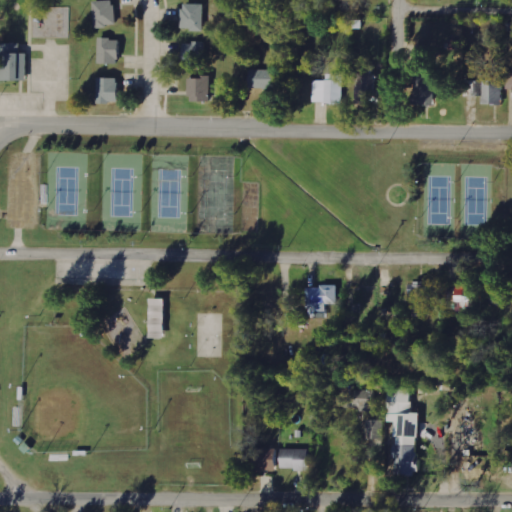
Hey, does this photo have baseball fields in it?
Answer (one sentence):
Yes, there's a baseball field down there.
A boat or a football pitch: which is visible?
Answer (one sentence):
Of the two, only a football pitch appears.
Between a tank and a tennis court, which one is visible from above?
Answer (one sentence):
There is a tennis court in the scene.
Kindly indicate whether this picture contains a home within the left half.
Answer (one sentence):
Yes, within the left half there is a home.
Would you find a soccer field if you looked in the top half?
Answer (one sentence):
No, there's no soccer field to be seen in the top half.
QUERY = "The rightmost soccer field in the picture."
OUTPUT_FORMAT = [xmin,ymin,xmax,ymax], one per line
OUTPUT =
[158,370,229,485]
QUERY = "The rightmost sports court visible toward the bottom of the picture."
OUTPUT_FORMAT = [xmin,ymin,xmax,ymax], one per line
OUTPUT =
[197,313,222,358]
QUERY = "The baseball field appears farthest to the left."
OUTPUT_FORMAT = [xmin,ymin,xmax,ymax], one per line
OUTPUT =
[20,324,149,454]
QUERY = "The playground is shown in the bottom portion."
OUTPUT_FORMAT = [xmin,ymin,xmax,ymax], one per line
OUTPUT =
[107,307,143,357]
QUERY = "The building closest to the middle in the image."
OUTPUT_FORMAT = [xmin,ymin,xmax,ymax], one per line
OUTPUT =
[305,285,338,318]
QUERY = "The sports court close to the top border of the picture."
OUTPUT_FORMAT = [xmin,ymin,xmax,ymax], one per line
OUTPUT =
[32,8,69,38]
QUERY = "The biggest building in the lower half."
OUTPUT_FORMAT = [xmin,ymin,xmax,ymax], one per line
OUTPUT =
[386,391,420,474]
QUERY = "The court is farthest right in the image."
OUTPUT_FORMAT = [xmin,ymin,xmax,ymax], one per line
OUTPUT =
[461,164,492,238]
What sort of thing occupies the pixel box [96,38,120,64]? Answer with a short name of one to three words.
house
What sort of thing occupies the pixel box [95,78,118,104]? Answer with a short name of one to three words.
house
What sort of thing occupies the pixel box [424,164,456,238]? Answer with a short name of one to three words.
tennis court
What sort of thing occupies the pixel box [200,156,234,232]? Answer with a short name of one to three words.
sports court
